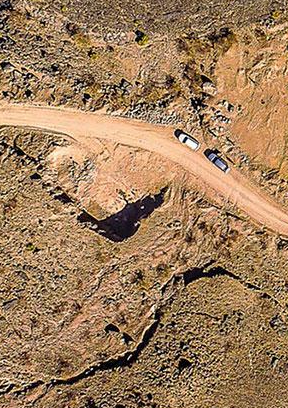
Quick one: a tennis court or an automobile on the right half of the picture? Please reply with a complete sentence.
You can see an automobile on the right half of the picture.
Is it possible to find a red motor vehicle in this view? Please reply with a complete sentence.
No, the frame has no red motor vehicle in it.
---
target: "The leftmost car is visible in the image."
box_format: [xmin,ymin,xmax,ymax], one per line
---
[175,133,199,151]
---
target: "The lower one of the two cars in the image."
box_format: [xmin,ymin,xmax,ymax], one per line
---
[206,154,229,174]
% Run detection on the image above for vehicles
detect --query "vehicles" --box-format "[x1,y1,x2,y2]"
[175,133,199,151]
[206,154,229,174]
